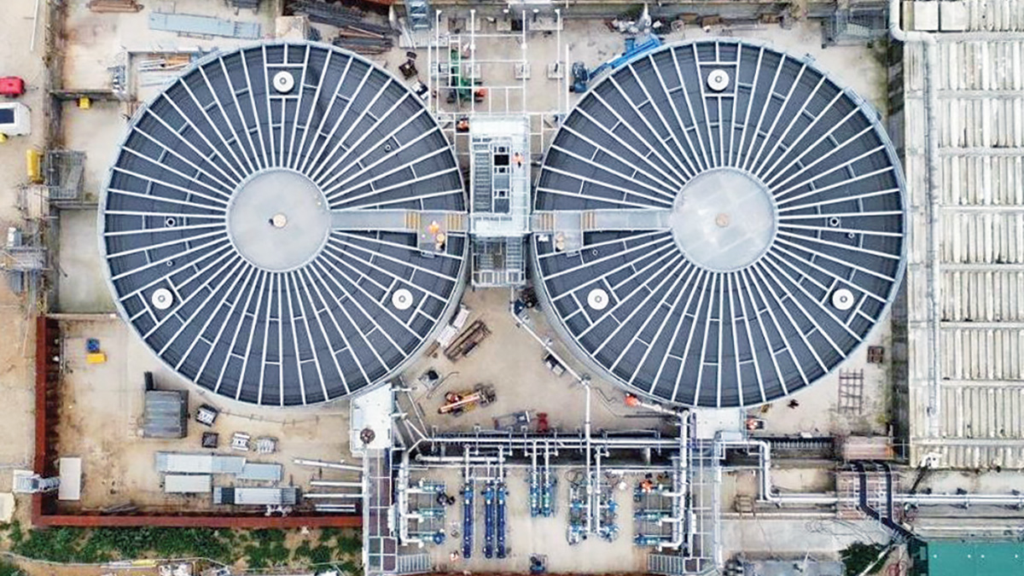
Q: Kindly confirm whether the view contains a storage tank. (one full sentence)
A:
Yes, the frame does contain a storage tank.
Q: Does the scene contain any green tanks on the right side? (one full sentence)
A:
No, there's no green tank to be seen on the right side.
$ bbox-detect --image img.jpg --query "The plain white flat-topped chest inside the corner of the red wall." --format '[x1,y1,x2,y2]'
[53,459,80,502]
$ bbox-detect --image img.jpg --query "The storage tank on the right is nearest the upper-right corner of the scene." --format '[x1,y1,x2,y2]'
[530,36,908,409]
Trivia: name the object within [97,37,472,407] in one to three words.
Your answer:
storage tank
